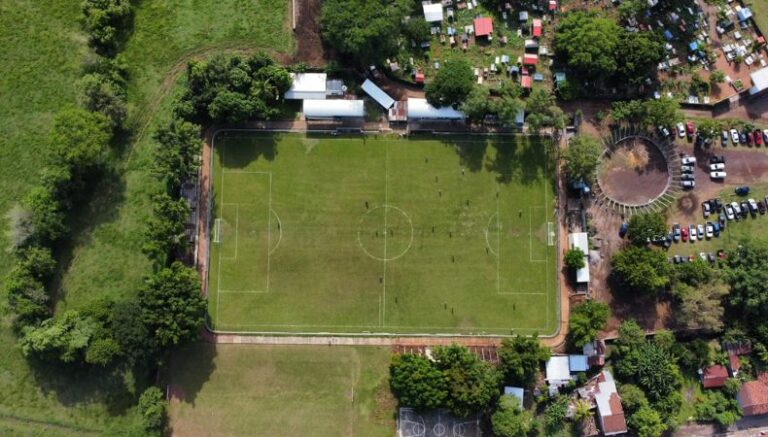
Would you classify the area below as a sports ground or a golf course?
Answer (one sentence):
This looks like a sports ground.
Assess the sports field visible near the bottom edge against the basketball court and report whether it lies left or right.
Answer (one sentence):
Looking at the picture, you'll find the sports field visible near the bottom edge to the left of the basketball court.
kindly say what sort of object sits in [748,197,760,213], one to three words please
vehicle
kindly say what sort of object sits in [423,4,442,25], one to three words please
building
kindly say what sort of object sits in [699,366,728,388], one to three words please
house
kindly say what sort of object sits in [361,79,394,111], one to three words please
shed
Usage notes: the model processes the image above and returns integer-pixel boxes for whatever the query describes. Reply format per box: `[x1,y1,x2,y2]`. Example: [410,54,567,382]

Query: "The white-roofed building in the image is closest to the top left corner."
[284,73,327,102]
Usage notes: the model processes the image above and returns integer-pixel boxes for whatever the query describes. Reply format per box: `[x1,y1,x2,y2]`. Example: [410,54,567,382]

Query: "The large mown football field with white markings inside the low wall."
[206,130,558,337]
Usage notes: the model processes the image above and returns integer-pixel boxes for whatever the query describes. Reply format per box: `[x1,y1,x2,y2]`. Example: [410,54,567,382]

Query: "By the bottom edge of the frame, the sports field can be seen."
[152,346,396,437]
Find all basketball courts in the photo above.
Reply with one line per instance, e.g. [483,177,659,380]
[397,405,481,437]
